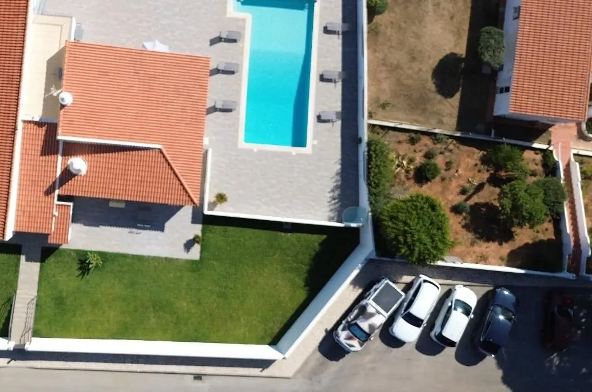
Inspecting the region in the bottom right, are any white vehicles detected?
Yes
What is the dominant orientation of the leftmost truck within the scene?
diagonally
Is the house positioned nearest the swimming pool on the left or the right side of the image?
left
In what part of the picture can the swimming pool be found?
top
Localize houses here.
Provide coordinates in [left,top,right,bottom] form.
[0,0,212,245]
[488,0,592,126]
